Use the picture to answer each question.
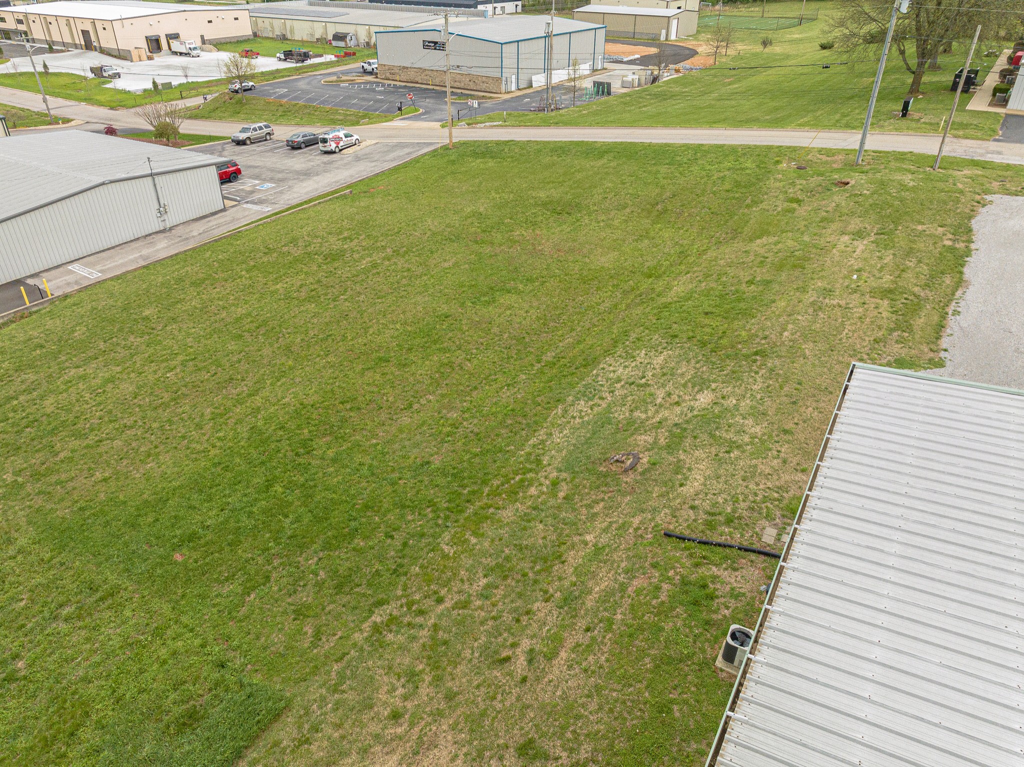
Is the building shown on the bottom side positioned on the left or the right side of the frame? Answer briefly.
right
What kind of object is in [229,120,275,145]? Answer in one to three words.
car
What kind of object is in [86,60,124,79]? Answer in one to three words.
vehicle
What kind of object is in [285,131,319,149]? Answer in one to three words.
car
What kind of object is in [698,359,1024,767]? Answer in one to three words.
building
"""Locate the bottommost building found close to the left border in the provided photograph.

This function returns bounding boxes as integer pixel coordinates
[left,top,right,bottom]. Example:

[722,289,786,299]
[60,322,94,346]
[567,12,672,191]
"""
[0,133,238,286]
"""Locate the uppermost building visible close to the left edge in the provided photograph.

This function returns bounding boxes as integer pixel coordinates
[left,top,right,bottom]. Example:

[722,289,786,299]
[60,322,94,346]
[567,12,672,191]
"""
[0,0,246,56]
